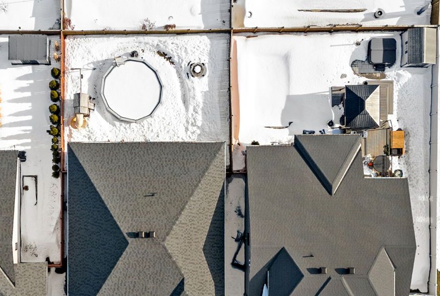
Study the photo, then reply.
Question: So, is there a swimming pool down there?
Yes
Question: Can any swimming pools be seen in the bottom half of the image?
No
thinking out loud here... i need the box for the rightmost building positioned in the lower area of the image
[243,134,416,296]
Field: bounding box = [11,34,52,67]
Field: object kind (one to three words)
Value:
shed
